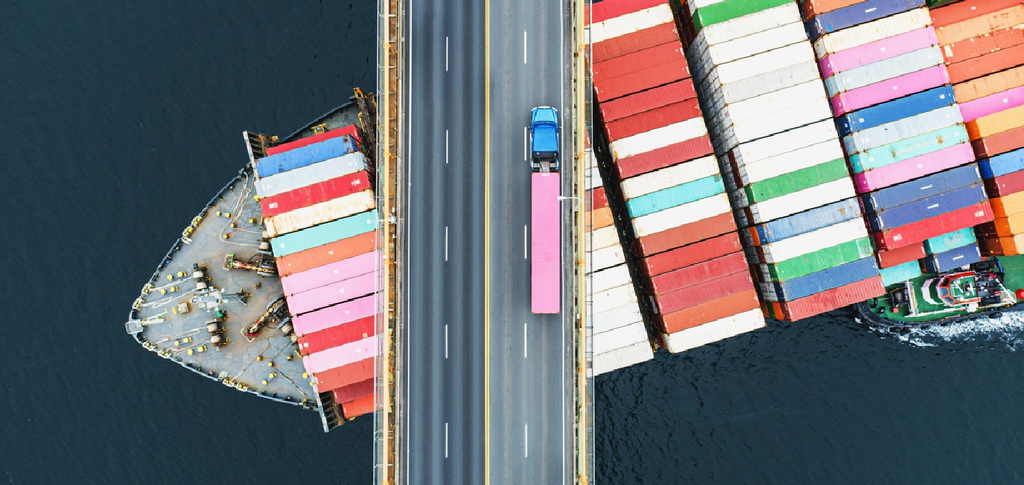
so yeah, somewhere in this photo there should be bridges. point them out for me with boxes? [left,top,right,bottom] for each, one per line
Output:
[374,0,594,485]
